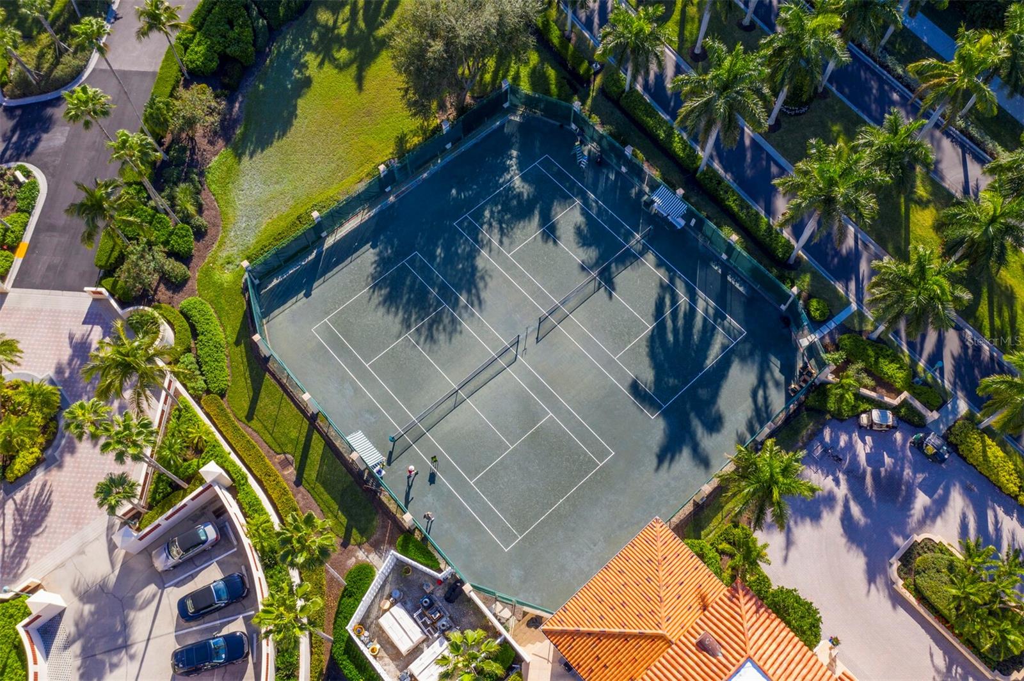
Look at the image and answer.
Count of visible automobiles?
3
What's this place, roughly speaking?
sports ground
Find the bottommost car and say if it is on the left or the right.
left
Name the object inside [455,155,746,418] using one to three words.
tennis court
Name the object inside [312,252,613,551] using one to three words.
tennis court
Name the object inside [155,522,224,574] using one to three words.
car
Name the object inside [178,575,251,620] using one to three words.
car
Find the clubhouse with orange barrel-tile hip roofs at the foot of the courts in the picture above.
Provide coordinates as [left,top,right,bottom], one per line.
[540,518,852,681]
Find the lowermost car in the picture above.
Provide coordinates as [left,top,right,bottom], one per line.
[174,633,252,676]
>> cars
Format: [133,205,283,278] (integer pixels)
[178,575,251,620]
[155,522,224,574]
[174,633,252,676]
